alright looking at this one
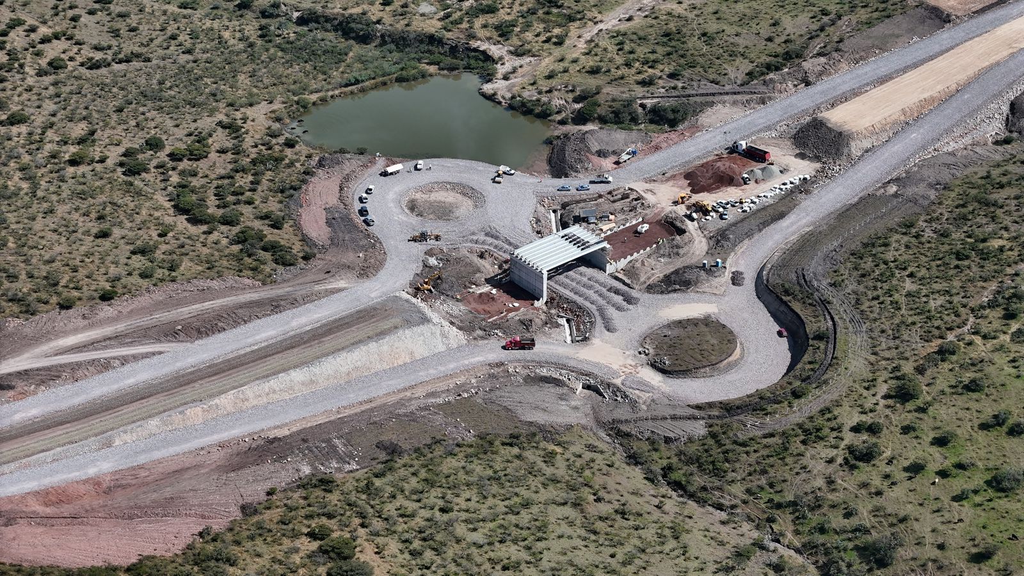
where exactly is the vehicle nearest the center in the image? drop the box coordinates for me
[503,337,535,352]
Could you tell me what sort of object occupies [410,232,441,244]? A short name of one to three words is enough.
vehicle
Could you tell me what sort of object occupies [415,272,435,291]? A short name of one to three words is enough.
work vehicle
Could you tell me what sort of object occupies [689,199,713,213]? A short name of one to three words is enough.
work vehicle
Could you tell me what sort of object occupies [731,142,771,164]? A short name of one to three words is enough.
truck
